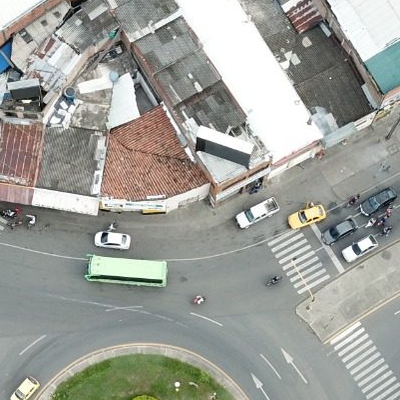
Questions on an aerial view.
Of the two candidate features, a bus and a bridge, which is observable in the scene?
bus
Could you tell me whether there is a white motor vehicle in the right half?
Yes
